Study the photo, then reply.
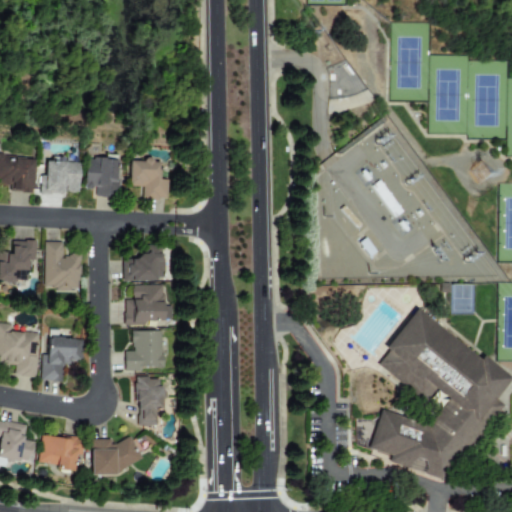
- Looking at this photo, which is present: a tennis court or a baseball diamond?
tennis court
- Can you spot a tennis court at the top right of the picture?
Yes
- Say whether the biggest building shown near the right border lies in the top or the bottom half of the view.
bottom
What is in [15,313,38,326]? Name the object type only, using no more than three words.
swimming pool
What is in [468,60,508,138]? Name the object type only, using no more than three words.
tennis court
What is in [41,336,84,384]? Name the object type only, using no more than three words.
house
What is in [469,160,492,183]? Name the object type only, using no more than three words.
gazebo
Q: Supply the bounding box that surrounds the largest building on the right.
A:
[364,306,512,484]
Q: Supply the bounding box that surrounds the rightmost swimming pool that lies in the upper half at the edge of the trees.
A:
[148,150,170,162]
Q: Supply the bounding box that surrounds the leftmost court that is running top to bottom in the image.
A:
[392,22,430,100]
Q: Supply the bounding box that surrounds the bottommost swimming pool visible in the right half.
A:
[353,301,401,355]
